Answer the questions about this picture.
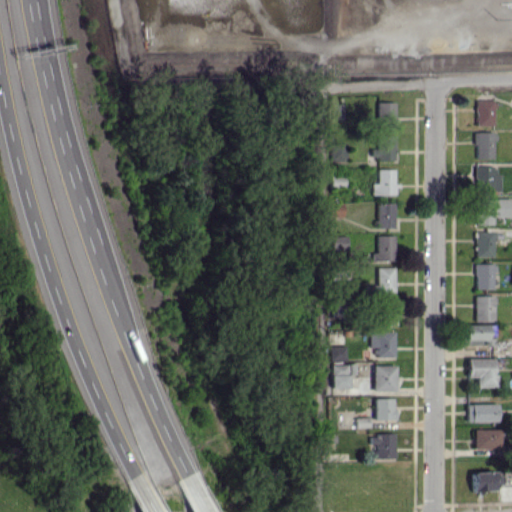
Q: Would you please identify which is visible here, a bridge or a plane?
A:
bridge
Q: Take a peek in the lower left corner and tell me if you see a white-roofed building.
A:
No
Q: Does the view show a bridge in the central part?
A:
No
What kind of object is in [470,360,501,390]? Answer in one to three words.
house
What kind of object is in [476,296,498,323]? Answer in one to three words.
house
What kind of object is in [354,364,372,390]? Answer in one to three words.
building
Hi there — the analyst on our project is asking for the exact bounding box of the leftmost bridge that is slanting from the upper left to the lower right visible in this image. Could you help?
[128,472,171,512]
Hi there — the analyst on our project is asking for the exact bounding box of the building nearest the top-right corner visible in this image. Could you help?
[475,100,496,126]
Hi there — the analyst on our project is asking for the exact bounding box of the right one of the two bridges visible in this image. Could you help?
[180,470,223,512]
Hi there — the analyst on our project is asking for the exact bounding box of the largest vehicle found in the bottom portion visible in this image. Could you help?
[129,330,148,364]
